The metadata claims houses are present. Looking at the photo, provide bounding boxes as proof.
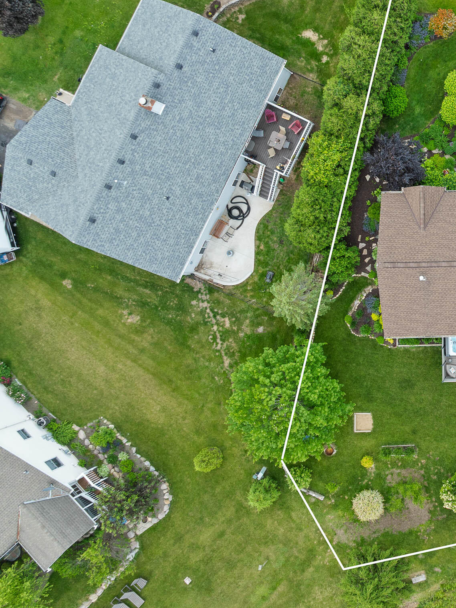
[0,388,106,575]
[0,0,294,285]
[377,186,456,340]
